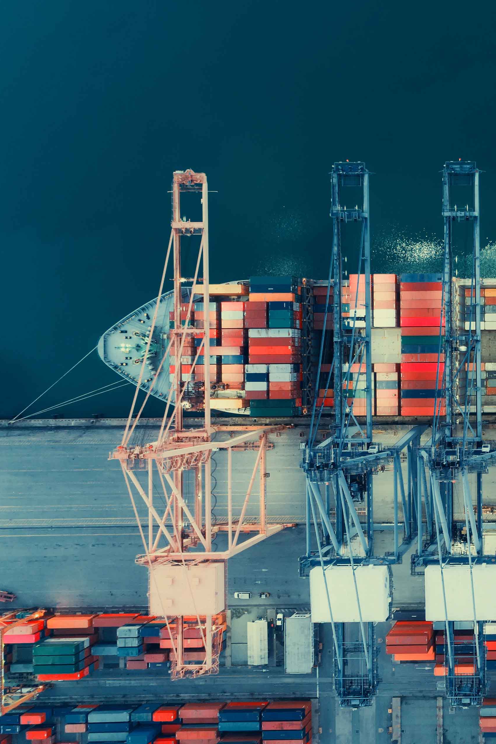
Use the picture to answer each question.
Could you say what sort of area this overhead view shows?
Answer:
port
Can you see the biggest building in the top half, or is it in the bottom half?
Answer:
bottom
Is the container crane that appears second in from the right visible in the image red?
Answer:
No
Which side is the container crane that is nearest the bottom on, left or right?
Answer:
left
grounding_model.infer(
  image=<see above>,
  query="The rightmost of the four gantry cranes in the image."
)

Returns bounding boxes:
[408,156,496,709]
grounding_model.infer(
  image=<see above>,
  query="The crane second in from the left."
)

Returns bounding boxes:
[107,165,308,686]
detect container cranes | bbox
[107,165,308,686]
[298,157,436,709]
[408,156,496,709]
[0,607,55,715]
